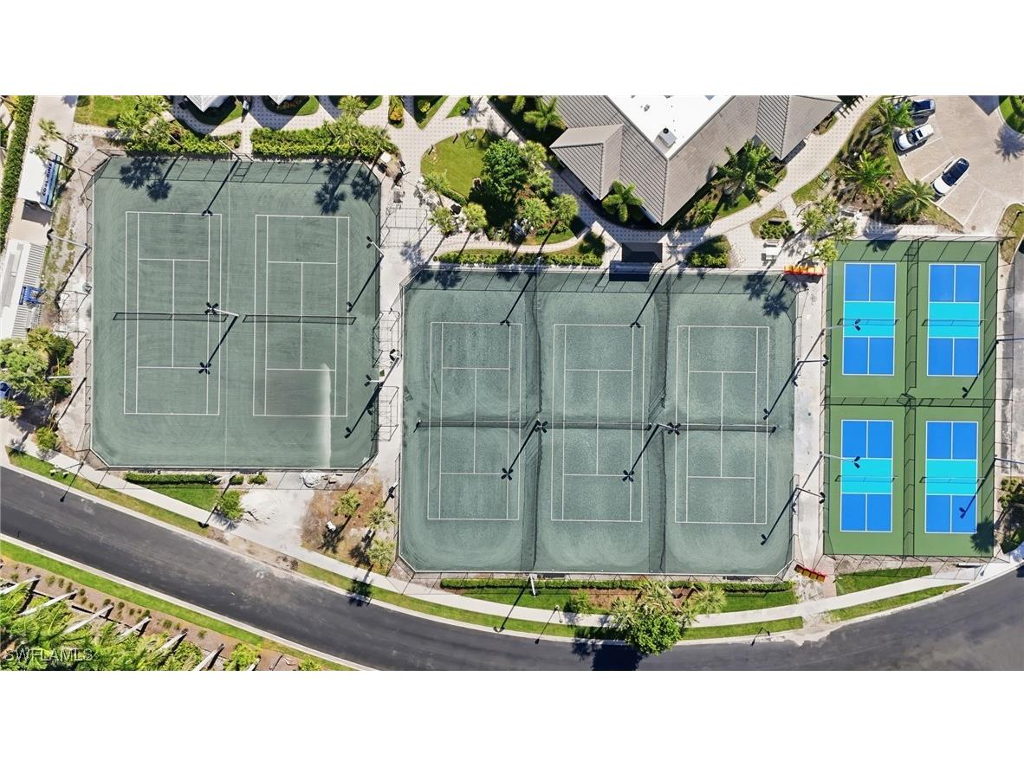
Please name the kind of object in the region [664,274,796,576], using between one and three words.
tennis court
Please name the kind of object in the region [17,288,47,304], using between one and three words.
work vehicle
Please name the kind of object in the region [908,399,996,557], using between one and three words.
sports court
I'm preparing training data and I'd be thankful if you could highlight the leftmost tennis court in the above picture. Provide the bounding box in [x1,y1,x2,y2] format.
[91,157,228,467]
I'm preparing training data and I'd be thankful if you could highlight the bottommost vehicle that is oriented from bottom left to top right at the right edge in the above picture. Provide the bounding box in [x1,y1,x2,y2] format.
[930,156,974,194]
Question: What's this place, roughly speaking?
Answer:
sports ground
